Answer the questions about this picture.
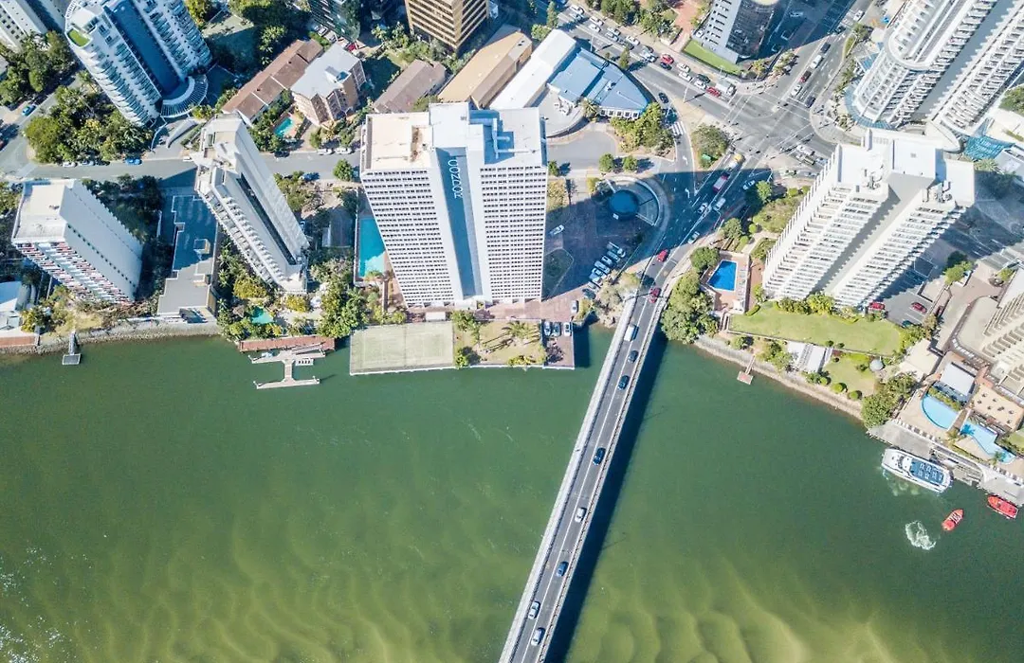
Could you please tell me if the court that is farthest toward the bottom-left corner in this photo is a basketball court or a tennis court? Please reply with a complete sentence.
I'd identify the court that is farthest toward the bottom-left corner as a tennis court.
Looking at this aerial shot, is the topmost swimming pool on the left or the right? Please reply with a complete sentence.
You can find the topmost swimming pool on the left side of the picture.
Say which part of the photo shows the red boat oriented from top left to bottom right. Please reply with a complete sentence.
You can find the red boat oriented from top left to bottom right in the bottom right area of the picture.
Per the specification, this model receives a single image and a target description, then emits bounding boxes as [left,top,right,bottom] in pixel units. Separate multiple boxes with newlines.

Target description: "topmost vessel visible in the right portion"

[881,449,953,491]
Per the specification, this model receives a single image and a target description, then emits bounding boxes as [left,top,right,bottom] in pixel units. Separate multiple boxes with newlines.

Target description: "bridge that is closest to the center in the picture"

[499,252,689,663]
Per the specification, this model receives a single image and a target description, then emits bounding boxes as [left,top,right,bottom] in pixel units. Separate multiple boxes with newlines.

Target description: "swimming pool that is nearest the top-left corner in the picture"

[272,116,295,136]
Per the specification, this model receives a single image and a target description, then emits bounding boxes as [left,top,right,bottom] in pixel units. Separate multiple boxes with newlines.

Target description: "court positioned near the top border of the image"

[200,12,258,58]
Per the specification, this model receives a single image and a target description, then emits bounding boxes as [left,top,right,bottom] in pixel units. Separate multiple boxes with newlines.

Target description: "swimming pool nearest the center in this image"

[357,215,388,280]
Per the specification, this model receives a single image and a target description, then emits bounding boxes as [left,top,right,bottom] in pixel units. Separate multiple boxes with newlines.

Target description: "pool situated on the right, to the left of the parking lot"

[707,258,739,292]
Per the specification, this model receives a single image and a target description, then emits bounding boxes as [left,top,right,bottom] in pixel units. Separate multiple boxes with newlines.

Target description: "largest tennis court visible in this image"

[349,319,452,370]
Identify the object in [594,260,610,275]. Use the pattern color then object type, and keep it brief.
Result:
blue vehicle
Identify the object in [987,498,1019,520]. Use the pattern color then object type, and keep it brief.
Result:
red boat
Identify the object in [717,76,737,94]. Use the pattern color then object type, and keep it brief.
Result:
white vehicle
